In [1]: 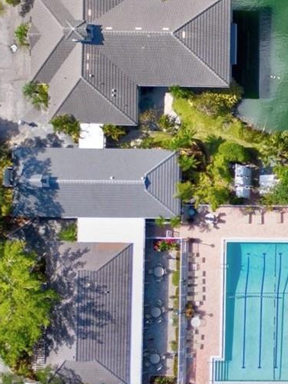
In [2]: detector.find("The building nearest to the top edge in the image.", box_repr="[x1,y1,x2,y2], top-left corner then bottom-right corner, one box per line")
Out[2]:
[30,0,242,126]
